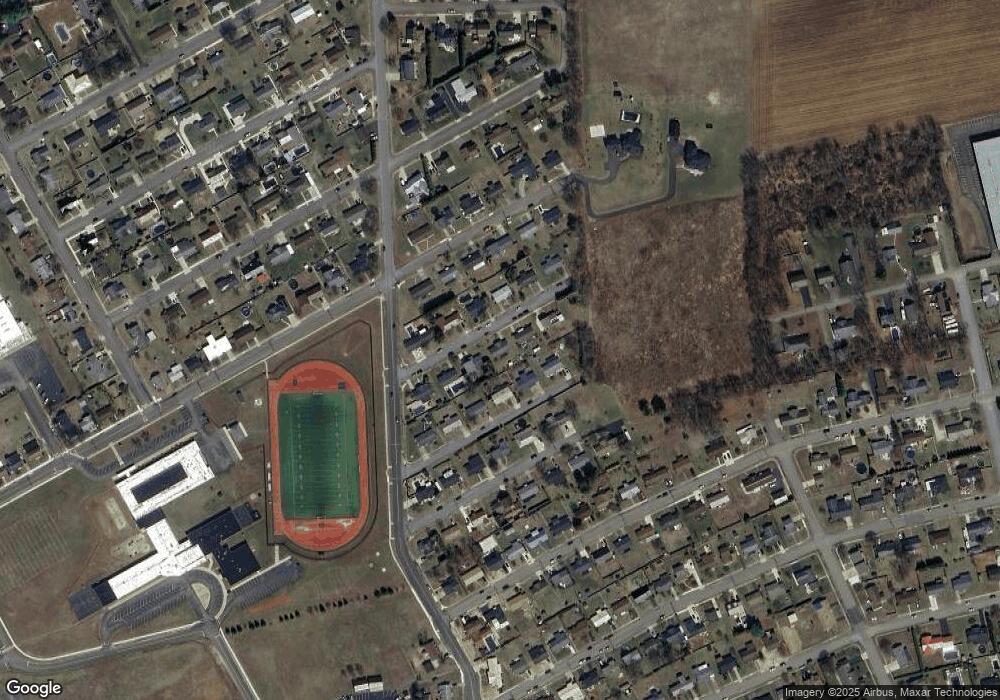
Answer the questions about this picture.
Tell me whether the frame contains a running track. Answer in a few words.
Yes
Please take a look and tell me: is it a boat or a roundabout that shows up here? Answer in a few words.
roundabout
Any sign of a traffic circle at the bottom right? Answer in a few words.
No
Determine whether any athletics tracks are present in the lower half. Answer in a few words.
Yes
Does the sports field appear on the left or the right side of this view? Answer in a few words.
left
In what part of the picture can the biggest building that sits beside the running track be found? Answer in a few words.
bottom left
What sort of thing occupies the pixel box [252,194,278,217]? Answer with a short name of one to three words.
house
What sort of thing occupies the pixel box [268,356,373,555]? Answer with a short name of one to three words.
running track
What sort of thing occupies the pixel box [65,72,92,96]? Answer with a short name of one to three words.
house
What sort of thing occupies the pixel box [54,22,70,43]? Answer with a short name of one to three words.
swimming pool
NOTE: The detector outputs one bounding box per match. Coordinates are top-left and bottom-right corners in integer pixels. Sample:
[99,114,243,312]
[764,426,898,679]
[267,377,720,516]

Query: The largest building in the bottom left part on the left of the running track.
[68,441,262,620]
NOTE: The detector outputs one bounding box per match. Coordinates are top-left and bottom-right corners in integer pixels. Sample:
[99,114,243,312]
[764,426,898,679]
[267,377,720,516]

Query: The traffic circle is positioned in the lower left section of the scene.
[183,571,230,632]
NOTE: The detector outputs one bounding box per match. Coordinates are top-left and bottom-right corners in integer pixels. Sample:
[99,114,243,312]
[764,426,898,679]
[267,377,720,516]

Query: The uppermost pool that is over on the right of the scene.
[621,110,641,123]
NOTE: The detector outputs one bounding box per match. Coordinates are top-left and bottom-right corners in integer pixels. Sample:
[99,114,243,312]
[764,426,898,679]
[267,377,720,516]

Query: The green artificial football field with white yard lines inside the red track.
[281,392,360,518]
